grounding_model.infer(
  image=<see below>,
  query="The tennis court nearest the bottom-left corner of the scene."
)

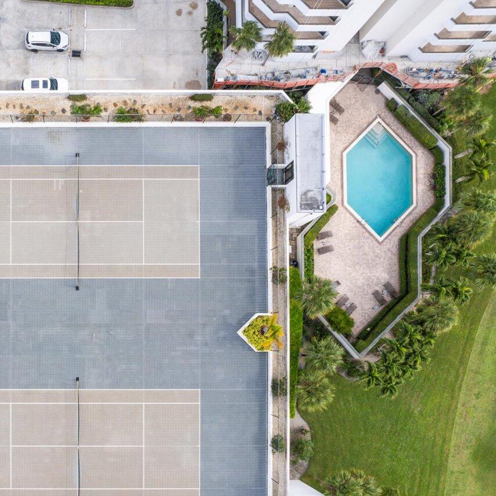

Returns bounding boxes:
[0,390,199,496]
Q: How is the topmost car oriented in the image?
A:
horizontally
